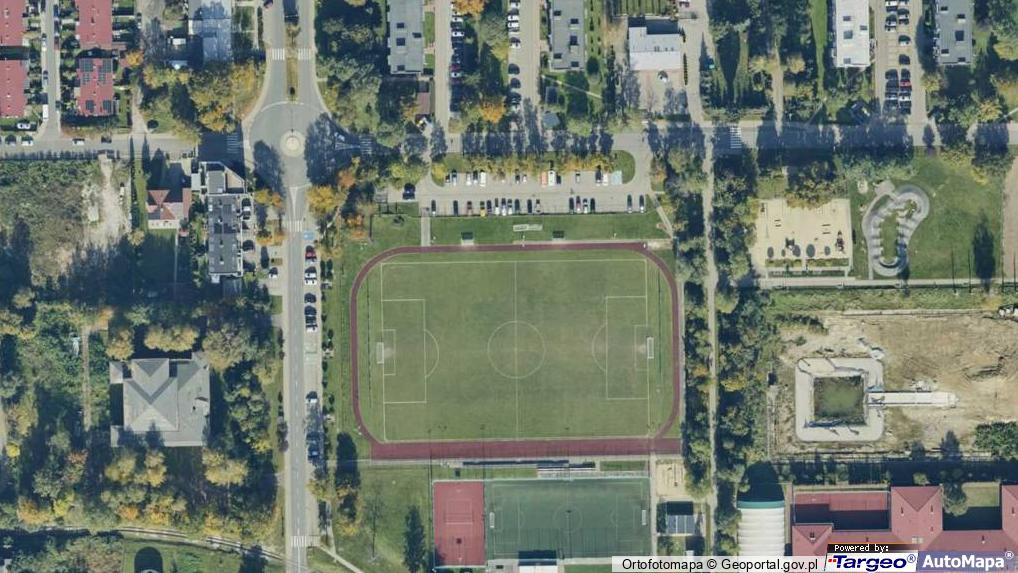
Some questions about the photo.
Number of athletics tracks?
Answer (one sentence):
My tally gives 1 athletics track in this photo.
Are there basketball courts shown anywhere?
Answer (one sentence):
Yes, there is a basketball court in the image.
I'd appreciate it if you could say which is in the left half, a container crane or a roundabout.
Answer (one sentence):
You can see a roundabout in the left half.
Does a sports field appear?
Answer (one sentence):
Yes, there's a sports field here.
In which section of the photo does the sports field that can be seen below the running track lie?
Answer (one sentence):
Look in the bottom portion of the view to spot the sports field that can be seen below the running track.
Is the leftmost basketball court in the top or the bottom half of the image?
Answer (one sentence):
It is in the bottom half that the leftmost basketball court appears.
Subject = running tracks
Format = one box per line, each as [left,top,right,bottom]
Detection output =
[350,242,680,461]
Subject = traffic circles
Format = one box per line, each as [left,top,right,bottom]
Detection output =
[248,97,339,189]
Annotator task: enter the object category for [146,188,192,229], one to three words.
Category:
house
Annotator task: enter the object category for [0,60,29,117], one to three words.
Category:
house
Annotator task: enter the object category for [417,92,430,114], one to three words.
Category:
building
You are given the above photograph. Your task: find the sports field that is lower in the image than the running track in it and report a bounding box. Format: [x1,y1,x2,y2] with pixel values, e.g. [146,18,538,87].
[485,478,651,560]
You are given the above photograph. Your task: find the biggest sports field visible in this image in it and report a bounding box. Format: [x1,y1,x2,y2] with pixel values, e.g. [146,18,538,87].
[357,249,673,442]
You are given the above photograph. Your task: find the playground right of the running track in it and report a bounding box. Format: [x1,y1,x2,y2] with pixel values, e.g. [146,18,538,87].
[751,198,851,276]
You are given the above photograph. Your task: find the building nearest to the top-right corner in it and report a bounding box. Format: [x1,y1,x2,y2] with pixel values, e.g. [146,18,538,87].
[930,0,973,67]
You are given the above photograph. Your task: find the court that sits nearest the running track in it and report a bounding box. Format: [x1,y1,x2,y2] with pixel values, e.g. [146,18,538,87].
[433,481,485,567]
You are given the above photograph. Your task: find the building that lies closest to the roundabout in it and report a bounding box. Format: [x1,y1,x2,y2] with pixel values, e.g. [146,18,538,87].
[201,161,249,283]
